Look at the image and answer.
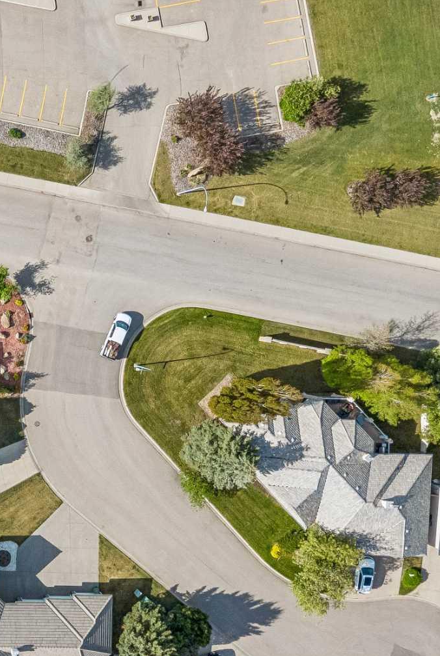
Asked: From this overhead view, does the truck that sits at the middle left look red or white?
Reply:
white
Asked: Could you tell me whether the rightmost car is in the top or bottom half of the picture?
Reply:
bottom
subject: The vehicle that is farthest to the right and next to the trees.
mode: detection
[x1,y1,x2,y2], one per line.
[358,558,380,597]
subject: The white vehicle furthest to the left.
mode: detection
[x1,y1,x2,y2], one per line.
[101,311,133,360]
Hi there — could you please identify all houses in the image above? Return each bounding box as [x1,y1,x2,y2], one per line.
[233,395,434,557]
[0,588,112,656]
